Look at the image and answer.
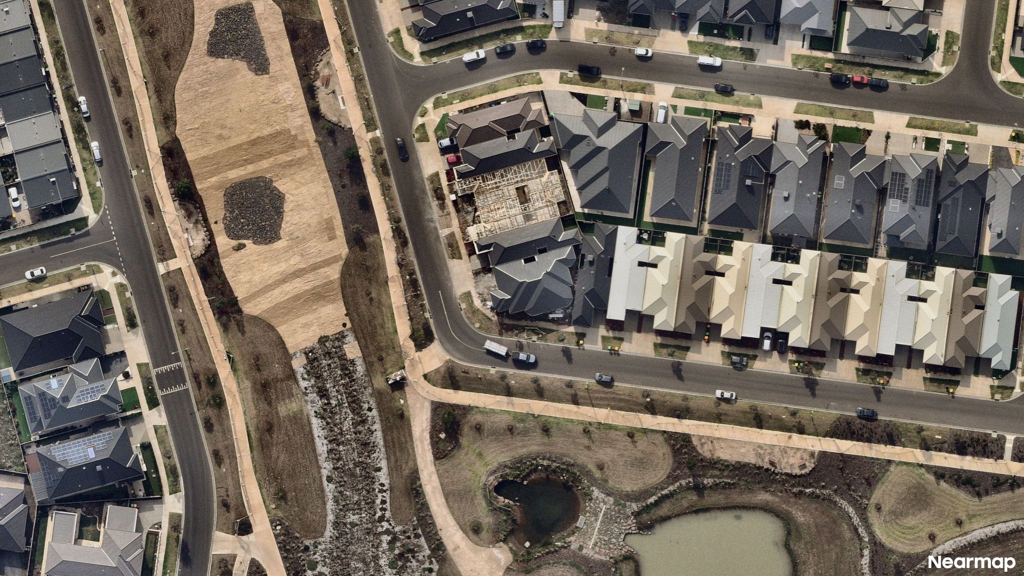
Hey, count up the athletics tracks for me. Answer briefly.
none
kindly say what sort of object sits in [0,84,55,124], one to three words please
house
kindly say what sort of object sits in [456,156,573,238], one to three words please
building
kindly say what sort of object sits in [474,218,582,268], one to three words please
house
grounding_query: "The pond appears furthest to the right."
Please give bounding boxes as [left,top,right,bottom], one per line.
[624,507,795,576]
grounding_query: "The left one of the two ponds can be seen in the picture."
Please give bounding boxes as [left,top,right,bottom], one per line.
[494,476,581,545]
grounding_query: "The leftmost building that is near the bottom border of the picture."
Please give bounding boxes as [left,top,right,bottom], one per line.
[0,486,28,553]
